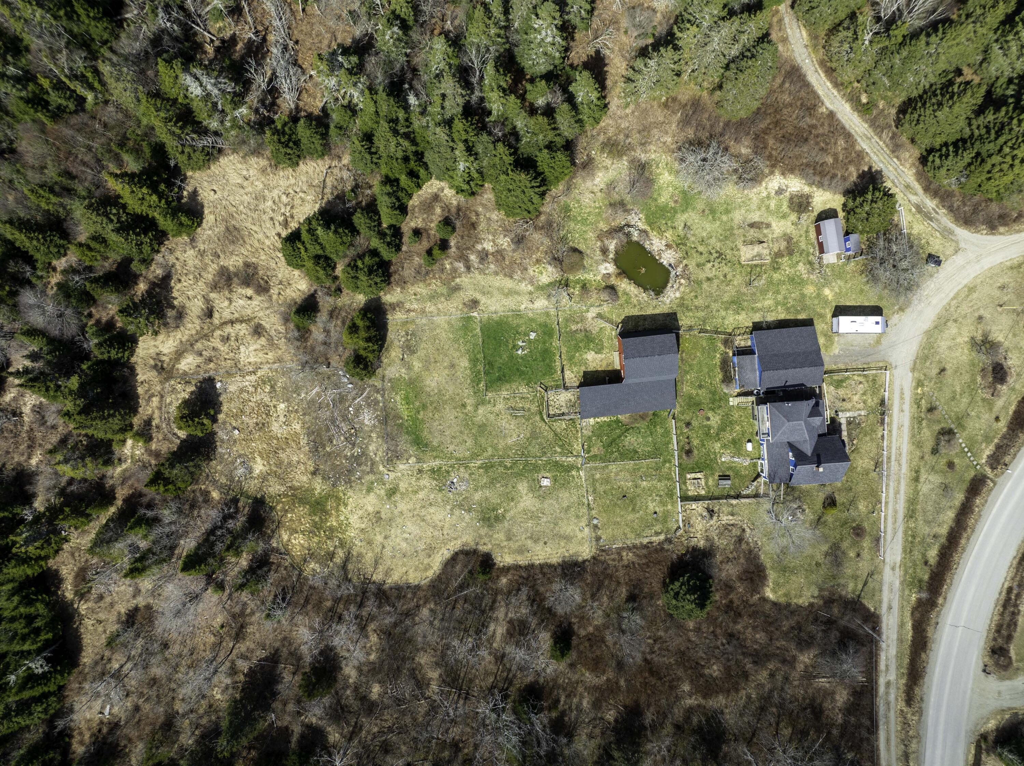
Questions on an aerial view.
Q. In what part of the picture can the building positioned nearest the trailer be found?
right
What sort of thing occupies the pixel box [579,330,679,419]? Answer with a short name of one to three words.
barn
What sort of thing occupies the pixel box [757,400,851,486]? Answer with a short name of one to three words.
house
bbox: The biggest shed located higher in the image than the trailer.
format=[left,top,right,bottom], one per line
[814,218,843,256]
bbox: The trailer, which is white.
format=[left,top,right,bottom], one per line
[830,316,883,334]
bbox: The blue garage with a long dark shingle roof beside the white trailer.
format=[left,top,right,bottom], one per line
[751,327,824,391]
